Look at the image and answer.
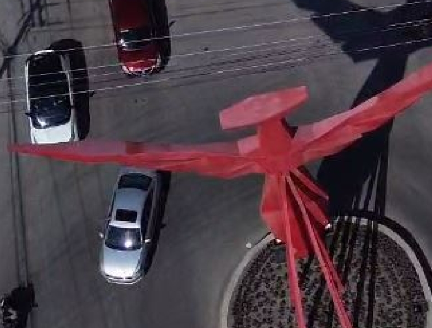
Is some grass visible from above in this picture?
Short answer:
No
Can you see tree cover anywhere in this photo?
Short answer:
No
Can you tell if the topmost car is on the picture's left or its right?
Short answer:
left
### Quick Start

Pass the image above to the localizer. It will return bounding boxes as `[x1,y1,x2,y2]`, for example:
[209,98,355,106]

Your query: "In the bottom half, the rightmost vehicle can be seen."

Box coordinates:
[97,173,159,286]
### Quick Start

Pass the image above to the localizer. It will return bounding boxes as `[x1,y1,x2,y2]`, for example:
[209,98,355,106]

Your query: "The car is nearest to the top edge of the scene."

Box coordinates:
[108,0,164,80]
